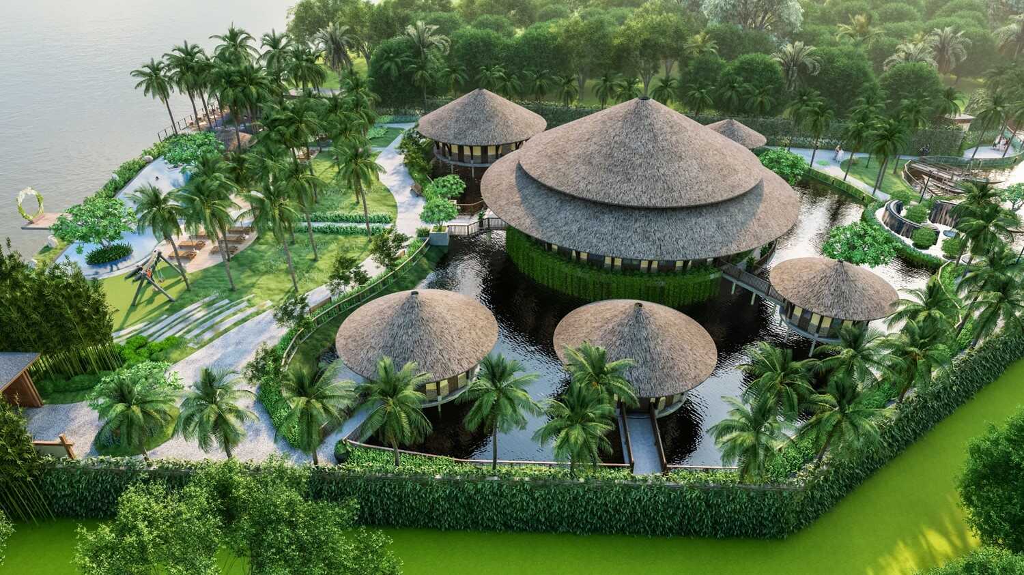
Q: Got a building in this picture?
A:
Yes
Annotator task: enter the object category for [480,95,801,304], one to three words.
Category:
building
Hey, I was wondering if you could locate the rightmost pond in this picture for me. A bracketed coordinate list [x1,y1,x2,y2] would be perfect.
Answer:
[304,145,925,477]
